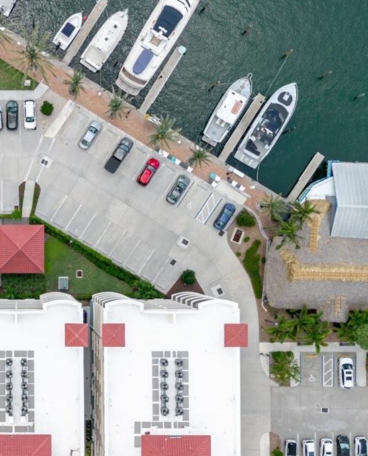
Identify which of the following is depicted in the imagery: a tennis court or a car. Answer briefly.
car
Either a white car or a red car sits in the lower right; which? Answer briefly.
white car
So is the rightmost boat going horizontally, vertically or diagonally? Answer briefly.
diagonally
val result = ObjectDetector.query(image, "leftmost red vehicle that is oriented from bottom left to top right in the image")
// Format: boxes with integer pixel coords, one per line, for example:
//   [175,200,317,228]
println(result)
[135,156,161,188]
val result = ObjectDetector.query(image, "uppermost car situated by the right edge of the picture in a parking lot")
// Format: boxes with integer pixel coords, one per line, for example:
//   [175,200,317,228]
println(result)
[337,355,355,389]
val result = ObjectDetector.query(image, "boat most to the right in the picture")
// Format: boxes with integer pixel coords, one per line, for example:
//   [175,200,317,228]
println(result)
[231,84,299,173]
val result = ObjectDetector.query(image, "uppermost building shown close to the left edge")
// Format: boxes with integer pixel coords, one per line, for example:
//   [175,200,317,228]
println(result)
[0,224,45,274]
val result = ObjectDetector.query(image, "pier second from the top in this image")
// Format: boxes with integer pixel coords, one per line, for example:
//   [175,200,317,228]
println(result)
[139,46,186,112]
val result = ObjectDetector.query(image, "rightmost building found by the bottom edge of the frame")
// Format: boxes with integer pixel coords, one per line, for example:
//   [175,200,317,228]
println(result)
[86,295,248,456]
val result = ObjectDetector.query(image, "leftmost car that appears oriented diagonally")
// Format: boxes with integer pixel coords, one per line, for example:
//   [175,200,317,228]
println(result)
[78,118,103,151]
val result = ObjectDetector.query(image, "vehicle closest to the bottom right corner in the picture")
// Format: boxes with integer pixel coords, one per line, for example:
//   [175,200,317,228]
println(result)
[352,435,368,456]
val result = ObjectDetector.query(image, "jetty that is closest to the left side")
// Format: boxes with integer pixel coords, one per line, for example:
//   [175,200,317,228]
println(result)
[63,0,110,66]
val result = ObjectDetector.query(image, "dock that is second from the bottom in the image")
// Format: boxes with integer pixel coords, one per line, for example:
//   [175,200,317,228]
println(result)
[219,92,266,162]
